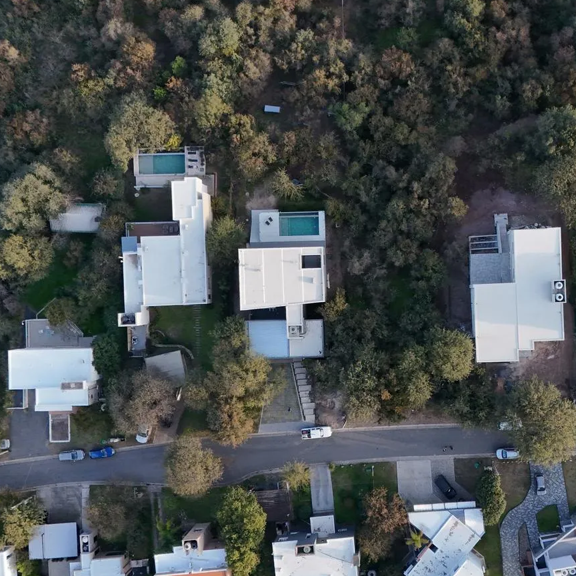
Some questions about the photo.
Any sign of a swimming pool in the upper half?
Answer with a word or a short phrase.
Yes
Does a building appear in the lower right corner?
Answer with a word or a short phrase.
Yes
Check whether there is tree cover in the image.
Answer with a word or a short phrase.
Yes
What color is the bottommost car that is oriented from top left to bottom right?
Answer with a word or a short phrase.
black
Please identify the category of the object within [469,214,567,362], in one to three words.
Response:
house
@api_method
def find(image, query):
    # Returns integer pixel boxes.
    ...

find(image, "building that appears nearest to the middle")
[239,247,328,362]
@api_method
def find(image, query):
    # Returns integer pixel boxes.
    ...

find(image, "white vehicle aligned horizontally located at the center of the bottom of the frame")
[301,426,332,440]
